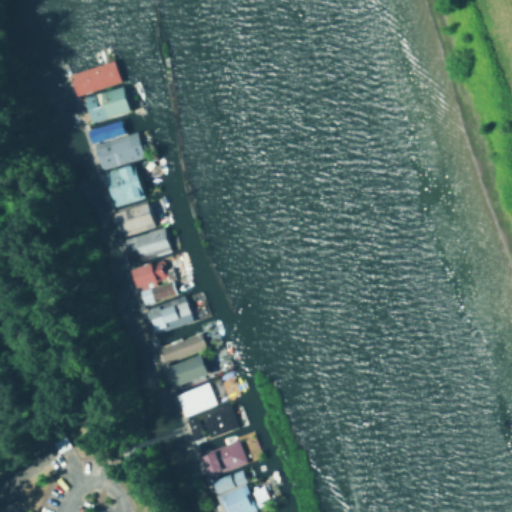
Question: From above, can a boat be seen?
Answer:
Yes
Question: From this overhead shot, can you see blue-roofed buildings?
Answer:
Yes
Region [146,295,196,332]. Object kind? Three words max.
boat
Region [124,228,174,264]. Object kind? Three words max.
boat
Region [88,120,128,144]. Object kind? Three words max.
building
